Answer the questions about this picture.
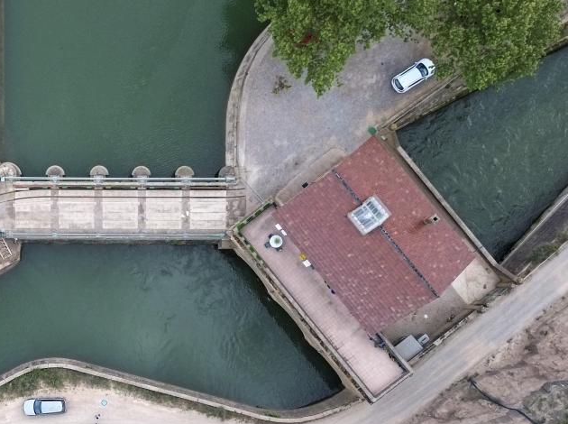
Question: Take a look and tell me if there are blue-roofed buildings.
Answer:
No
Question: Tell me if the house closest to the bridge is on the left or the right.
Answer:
right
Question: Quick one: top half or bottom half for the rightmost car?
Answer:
top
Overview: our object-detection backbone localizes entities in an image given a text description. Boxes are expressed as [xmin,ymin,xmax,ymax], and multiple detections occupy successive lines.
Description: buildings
[274,136,477,334]
[388,334,424,362]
